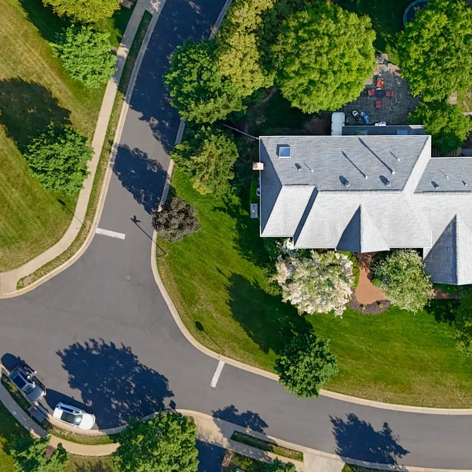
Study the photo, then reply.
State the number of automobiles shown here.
2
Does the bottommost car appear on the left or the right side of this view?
left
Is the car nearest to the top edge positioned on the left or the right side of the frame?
left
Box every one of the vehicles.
[51,403,95,430]
[7,365,45,403]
